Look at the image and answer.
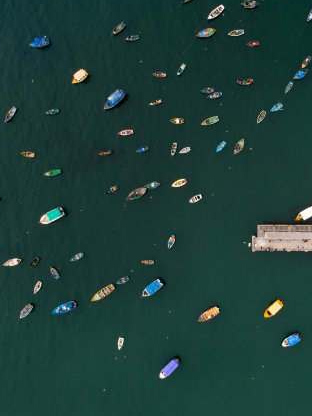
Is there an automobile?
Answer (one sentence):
No, this view has no automobile in it.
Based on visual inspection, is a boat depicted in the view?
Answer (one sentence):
Yes, the picture does show a boat.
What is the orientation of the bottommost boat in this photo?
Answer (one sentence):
The bottommost boat is laid out on a diagonal.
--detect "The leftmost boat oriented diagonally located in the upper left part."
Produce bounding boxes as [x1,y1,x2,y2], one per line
[3,105,18,122]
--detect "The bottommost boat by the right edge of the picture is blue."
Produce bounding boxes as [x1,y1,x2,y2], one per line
[282,334,302,348]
